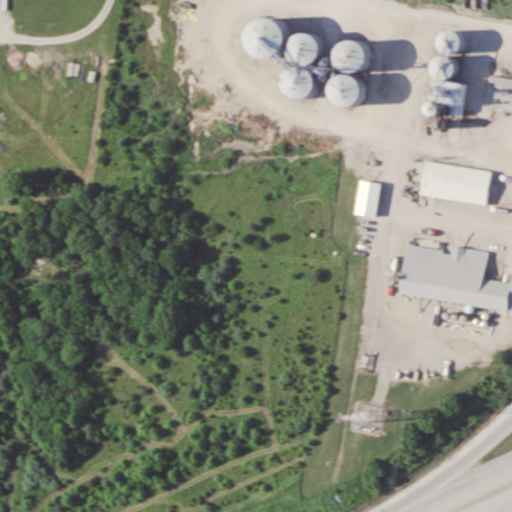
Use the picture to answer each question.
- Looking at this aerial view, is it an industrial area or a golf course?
industrial area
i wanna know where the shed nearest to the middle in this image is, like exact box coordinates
[354,180,382,218]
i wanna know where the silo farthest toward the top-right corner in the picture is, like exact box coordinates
[435,29,466,58]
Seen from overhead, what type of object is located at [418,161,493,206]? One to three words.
shed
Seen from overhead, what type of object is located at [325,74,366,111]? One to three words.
silo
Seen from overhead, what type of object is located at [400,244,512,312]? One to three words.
building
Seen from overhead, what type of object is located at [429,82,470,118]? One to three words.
building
